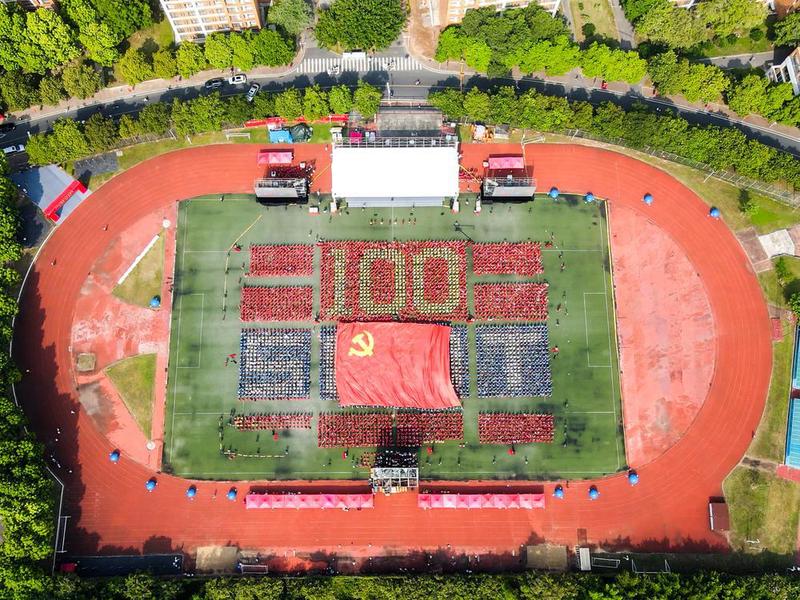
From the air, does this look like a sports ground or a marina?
sports ground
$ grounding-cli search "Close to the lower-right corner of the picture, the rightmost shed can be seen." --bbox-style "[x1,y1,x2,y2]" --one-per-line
[706,501,730,532]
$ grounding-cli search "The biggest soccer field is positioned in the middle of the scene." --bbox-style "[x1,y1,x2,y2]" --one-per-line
[162,193,629,481]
